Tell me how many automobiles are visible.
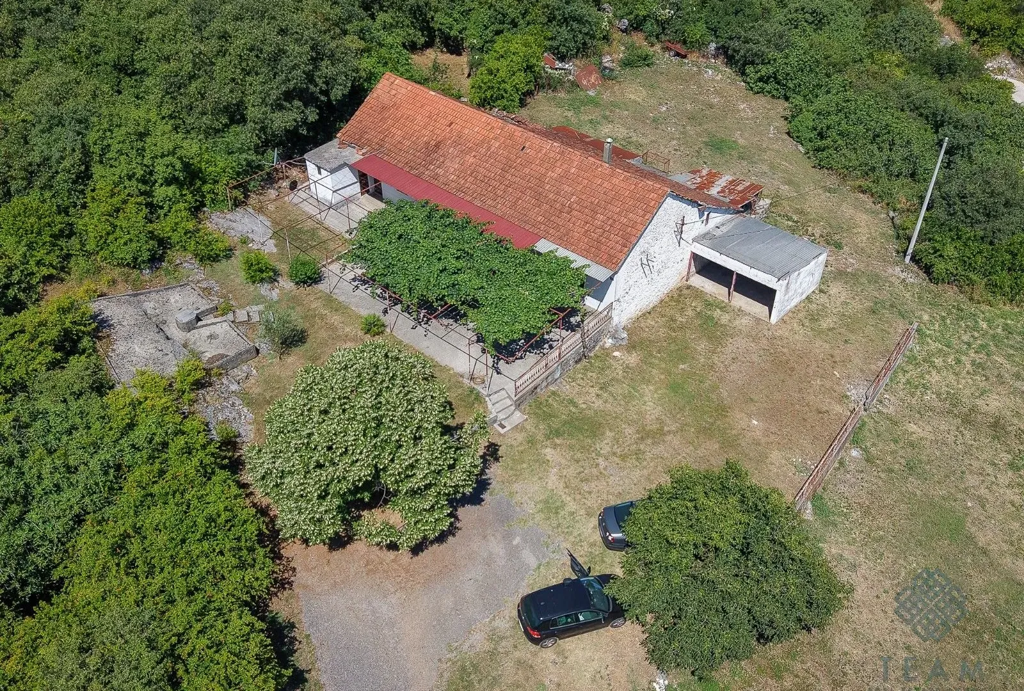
2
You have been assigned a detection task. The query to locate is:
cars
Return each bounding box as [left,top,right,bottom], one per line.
[513,547,636,646]
[598,499,650,555]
